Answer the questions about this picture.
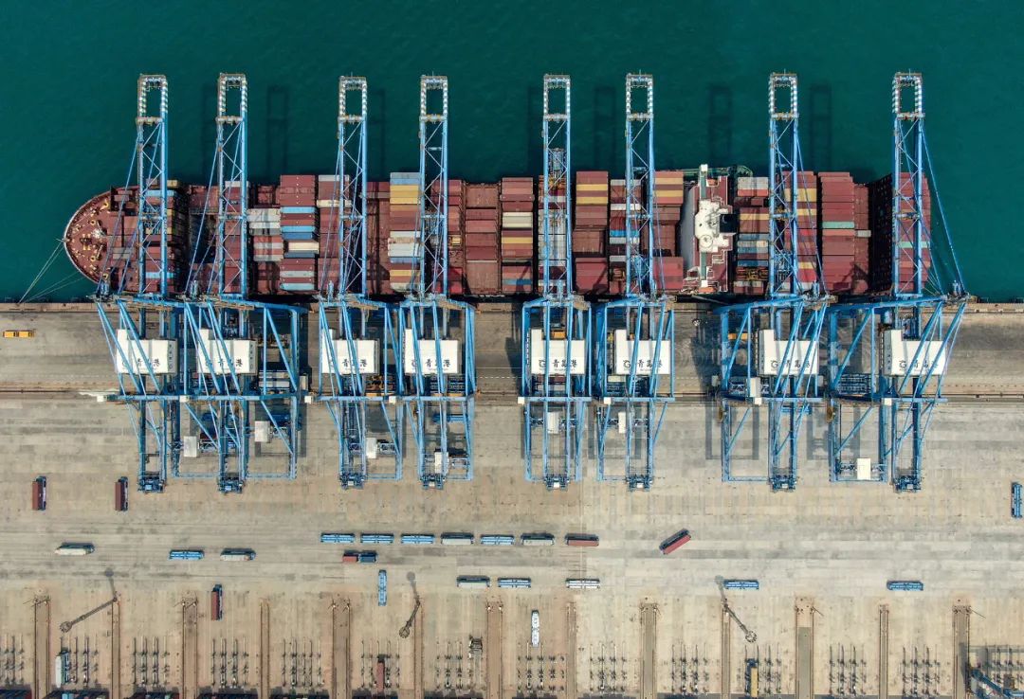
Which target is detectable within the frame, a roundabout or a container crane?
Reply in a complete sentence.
Looking from above, you can make out a container crane.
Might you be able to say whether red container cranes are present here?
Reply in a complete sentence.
No, there's no red container crane here.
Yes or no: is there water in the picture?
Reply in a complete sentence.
Yes, some water is visible.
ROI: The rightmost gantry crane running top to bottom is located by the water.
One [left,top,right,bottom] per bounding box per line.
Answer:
[800,69,979,489]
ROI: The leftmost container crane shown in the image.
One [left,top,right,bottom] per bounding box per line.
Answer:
[83,67,240,489]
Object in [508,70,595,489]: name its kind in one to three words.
container crane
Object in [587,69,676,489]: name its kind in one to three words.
container crane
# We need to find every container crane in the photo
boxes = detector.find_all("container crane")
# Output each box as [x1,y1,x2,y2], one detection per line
[697,69,839,489]
[83,67,240,489]
[174,70,323,489]
[508,70,595,489]
[310,68,416,489]
[587,69,676,489]
[394,67,490,489]
[800,69,979,489]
